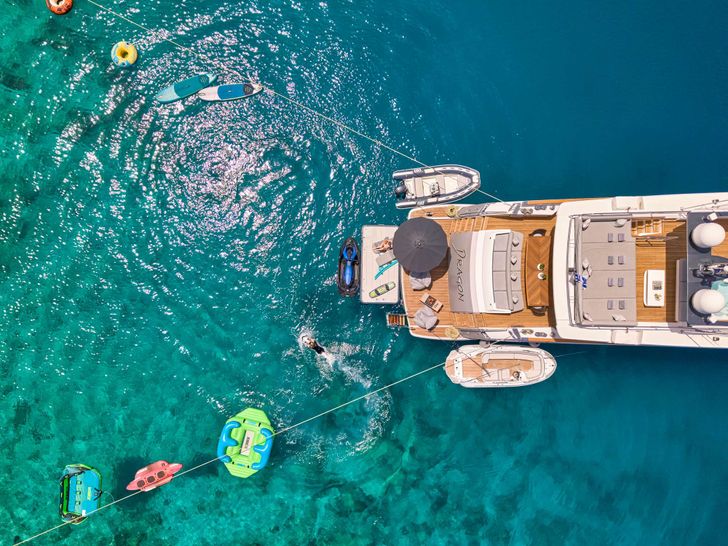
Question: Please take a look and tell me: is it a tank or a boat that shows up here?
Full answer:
There is a boat in the scene.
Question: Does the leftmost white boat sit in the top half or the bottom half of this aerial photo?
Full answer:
The leftmost white boat sits in the top half of the picture.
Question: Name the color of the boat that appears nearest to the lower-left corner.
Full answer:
The boat that appears nearest to the lower-left corner looks pink in the image.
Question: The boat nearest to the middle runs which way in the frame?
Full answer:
In this picture, the boat nearest to the middle is oriented up and down.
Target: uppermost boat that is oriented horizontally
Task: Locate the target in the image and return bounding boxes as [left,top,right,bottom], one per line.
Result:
[384,166,481,210]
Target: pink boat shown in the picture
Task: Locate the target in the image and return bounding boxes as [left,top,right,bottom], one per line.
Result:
[124,460,181,493]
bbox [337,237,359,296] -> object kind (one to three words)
boat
